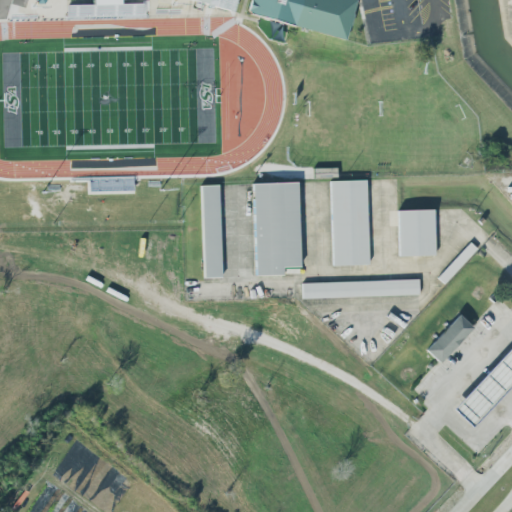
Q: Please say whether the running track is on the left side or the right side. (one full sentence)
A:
It is on the left.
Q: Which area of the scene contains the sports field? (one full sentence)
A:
The sports field is in the top left part of the image.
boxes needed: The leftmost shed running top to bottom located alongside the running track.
[202,185,223,276]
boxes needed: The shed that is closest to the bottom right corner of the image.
[456,351,512,426]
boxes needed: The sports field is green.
[0,34,220,160]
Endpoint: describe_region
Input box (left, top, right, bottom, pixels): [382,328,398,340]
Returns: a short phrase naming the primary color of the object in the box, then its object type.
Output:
white vehicle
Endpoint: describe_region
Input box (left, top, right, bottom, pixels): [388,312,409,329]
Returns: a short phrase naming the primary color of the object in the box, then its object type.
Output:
white camper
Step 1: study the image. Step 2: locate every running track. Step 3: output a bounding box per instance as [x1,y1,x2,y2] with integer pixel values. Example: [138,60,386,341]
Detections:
[0,16,285,180]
